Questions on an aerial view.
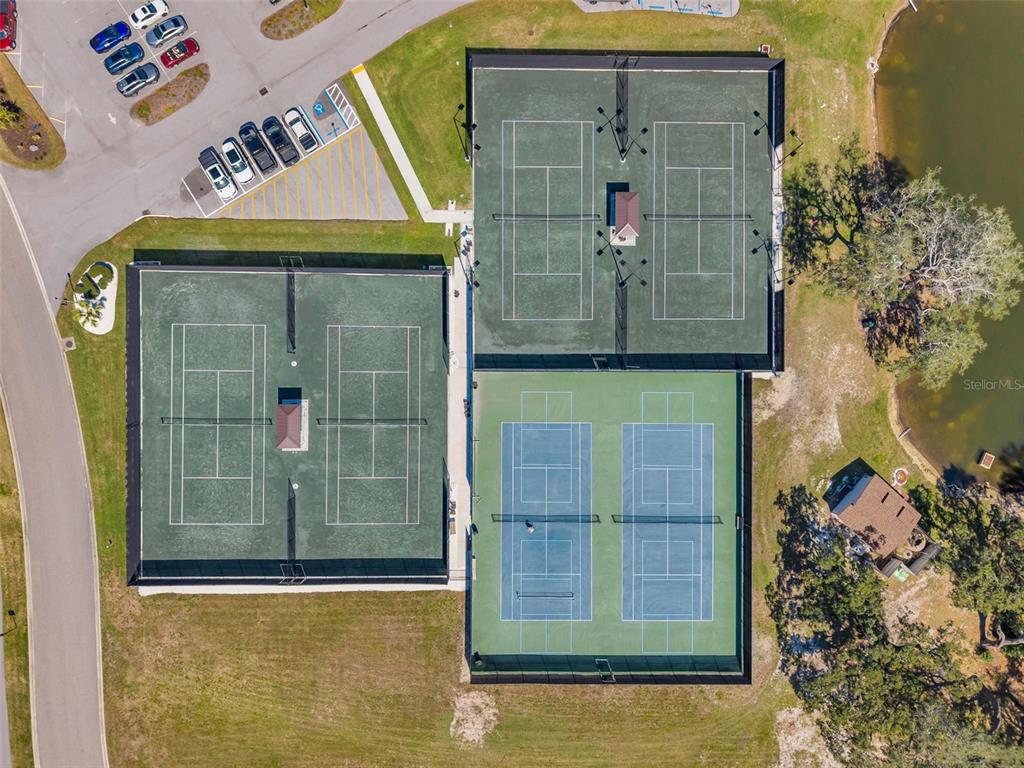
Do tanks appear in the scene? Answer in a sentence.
No, the scene contains no tank.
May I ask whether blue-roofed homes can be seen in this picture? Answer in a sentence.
No, no blue-roofed home can be seen from above.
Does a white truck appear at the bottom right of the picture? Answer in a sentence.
No, I see no white truck at the bottom right of the picture.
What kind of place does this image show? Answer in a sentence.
This image shows a sports ground.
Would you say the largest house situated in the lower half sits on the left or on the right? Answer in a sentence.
It is on the right.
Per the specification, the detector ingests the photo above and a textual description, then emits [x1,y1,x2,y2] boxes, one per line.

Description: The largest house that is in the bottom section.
[833,474,921,557]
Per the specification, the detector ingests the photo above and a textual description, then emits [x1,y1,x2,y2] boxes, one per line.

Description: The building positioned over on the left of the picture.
[277,399,308,451]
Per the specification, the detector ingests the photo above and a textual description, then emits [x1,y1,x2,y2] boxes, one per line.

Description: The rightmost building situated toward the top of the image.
[610,192,640,246]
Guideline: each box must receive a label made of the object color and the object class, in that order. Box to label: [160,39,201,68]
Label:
red car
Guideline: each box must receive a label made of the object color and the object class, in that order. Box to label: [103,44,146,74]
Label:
blue car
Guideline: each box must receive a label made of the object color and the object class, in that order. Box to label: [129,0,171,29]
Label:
white car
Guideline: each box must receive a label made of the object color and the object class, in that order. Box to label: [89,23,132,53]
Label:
blue car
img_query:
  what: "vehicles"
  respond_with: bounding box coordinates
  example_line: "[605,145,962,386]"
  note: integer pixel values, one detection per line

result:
[199,149,239,198]
[103,44,146,74]
[89,23,132,53]
[261,117,299,166]
[129,0,171,29]
[220,139,255,182]
[239,123,277,172]
[284,108,319,153]
[147,15,188,47]
[0,0,18,49]
[116,65,159,95]
[160,39,201,68]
